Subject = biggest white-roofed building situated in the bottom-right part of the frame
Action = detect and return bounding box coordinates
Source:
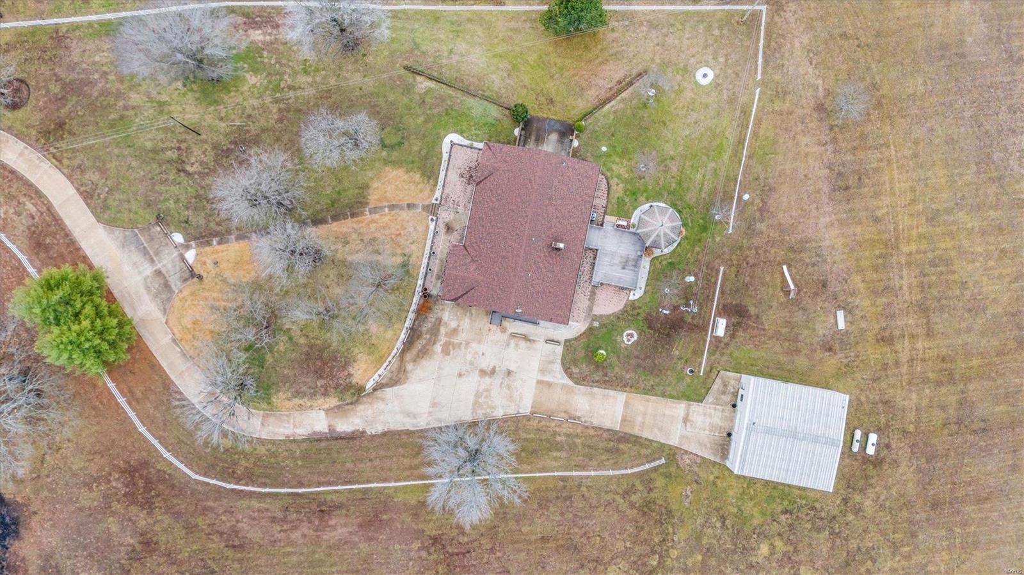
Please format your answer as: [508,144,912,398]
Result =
[727,374,852,494]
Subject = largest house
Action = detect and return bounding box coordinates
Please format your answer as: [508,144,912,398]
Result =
[443,141,601,325]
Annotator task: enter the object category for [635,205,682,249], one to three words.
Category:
gazebo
